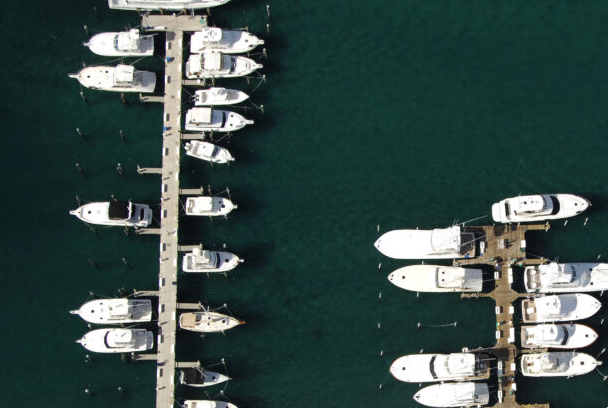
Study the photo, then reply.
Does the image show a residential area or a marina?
marina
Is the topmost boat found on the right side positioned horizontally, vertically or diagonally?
horizontally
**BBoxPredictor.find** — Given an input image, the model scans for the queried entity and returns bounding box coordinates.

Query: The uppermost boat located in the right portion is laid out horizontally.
[490,194,590,224]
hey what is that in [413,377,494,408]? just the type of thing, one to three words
boat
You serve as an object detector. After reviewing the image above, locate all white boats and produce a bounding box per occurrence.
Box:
[374,217,496,261]
[75,322,154,356]
[180,20,265,55]
[182,137,235,163]
[180,307,246,333]
[185,106,253,135]
[490,194,590,224]
[180,252,245,276]
[509,319,603,349]
[413,377,494,408]
[381,257,498,295]
[185,193,238,219]
[521,292,602,324]
[82,25,162,60]
[183,82,249,107]
[66,60,164,97]
[68,198,161,229]
[183,52,264,81]
[383,345,512,384]
[517,263,608,292]
[517,345,605,379]
[176,400,237,408]
[69,292,159,325]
